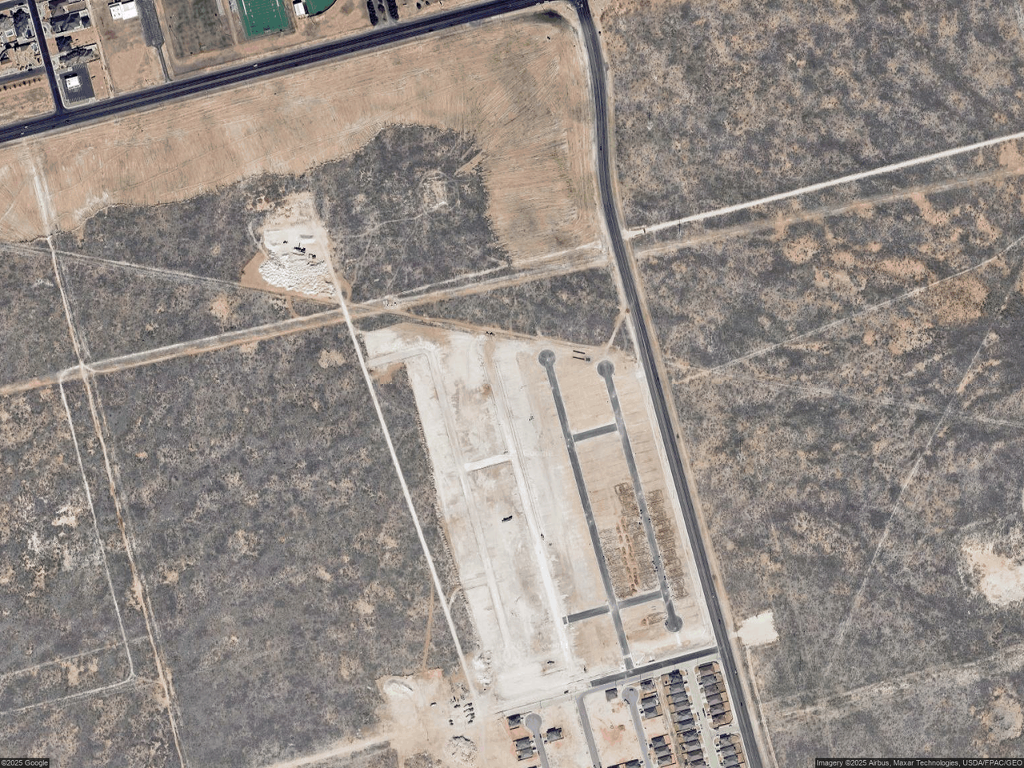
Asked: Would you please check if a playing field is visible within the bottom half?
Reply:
No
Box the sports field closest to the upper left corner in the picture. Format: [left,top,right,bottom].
[172,0,230,58]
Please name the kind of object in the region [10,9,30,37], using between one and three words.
house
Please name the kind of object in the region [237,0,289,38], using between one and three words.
sports field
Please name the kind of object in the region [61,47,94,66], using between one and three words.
house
